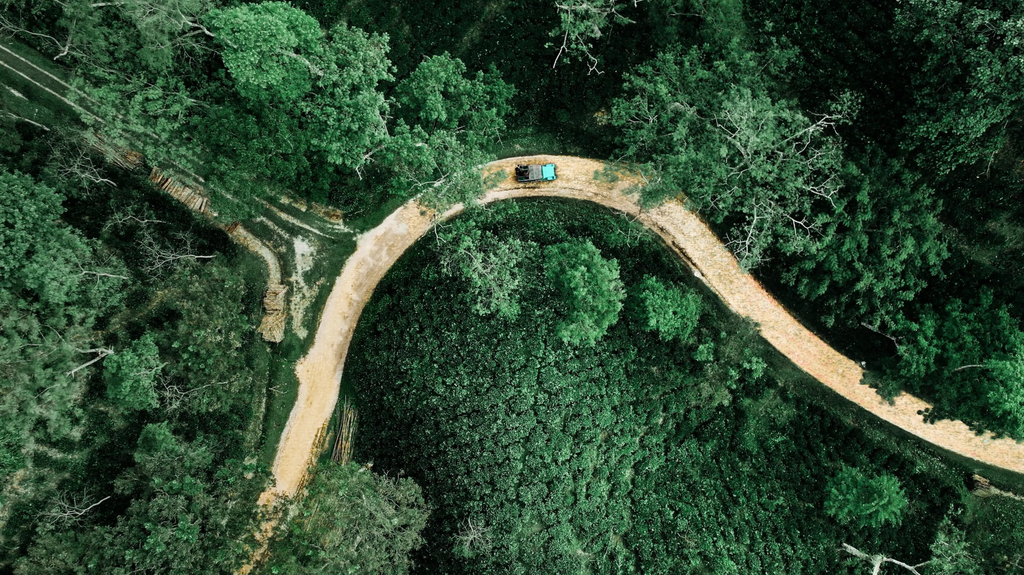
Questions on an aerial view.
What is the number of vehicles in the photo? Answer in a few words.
1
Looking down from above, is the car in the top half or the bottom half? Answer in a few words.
top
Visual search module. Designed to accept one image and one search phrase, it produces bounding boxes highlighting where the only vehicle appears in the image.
[515,161,558,181]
